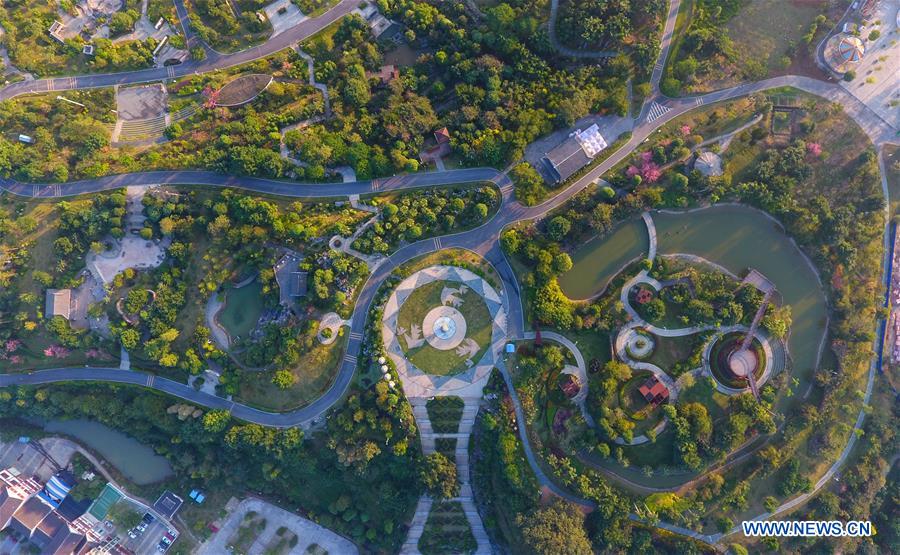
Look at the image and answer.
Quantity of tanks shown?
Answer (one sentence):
Not a single tank can be seen.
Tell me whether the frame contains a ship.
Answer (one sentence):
No, the photo shows no ship.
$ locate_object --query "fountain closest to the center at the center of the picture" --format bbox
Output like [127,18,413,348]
[432,317,456,340]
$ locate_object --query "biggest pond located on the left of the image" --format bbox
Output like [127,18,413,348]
[217,281,265,340]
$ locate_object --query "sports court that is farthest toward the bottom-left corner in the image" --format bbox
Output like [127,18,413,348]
[90,486,122,521]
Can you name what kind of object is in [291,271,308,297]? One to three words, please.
building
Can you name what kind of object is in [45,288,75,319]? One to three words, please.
building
